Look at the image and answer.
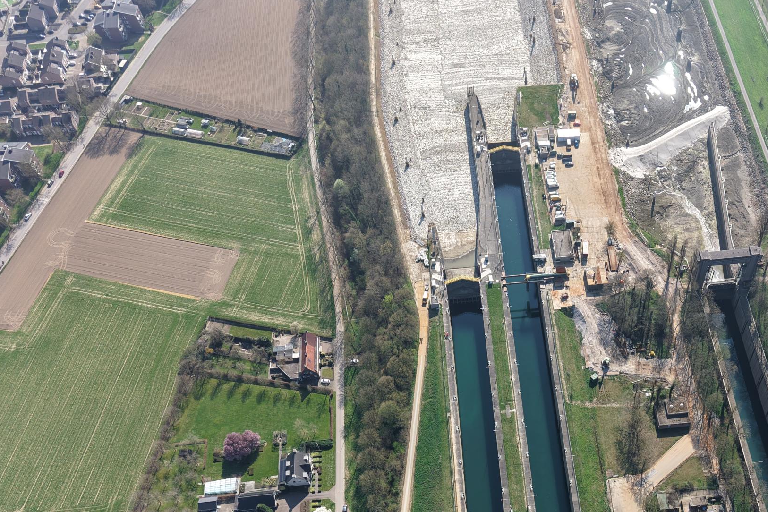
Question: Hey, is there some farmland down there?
Yes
